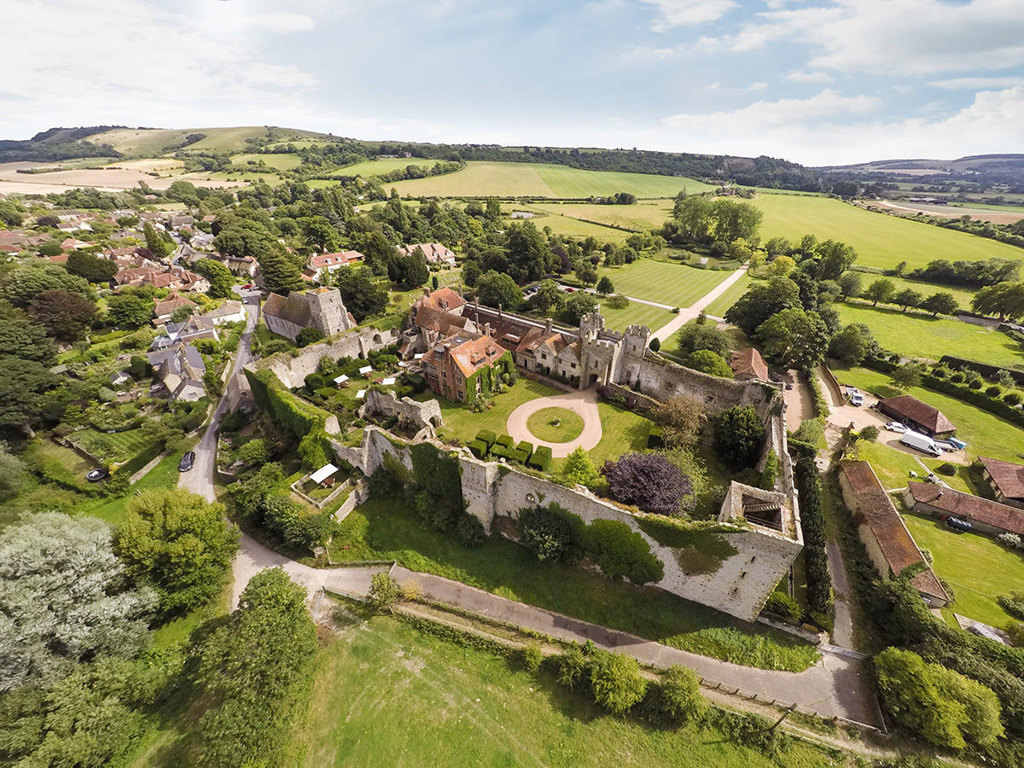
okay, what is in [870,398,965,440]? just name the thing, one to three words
shed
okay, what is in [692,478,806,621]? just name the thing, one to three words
building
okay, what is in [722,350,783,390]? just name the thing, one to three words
barn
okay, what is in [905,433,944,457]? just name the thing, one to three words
vehicle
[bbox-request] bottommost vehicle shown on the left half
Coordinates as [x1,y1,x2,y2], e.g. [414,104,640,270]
[178,451,193,467]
